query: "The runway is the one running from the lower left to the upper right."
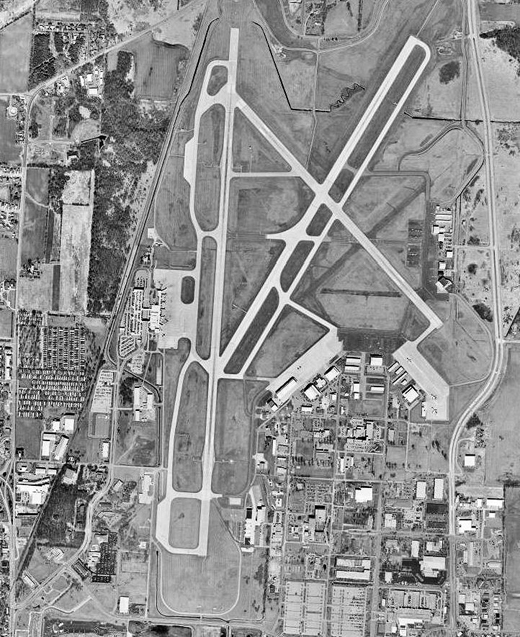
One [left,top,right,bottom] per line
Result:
[218,36,418,375]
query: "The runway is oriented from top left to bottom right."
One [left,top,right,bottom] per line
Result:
[236,90,443,329]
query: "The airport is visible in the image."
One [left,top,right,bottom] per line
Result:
[147,0,490,621]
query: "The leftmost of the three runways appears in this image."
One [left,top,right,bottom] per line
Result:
[199,28,239,556]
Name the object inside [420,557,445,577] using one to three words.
building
